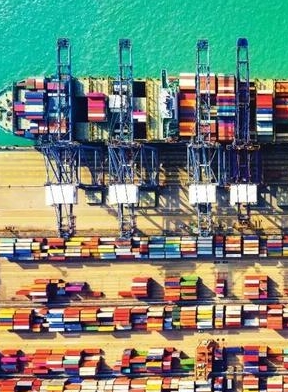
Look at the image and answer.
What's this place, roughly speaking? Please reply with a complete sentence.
It's a port.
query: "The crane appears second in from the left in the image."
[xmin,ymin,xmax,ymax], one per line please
[99,39,166,239]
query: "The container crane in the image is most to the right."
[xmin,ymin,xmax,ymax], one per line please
[226,38,267,238]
